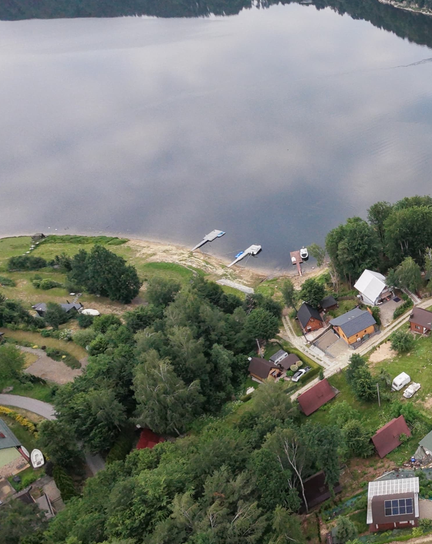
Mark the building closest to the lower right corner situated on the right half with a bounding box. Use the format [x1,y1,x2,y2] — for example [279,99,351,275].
[369,475,417,531]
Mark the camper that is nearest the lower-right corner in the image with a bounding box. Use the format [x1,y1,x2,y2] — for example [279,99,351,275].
[392,372,410,391]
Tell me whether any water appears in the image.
Yes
